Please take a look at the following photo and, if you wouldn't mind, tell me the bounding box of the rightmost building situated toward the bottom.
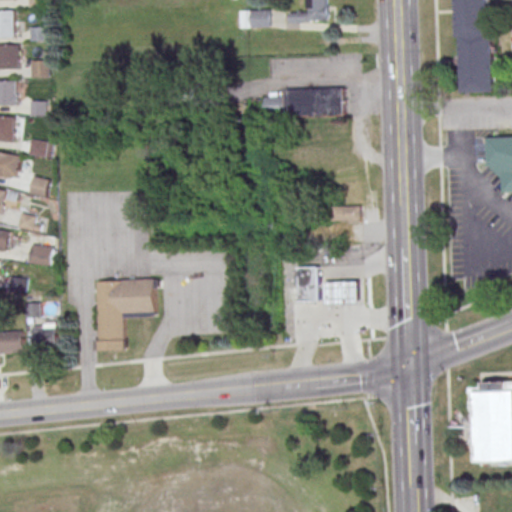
[472,382,512,464]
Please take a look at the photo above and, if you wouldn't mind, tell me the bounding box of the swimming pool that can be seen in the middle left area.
[44,302,58,316]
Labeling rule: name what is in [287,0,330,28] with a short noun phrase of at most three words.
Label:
house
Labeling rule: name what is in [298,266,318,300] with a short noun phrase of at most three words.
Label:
building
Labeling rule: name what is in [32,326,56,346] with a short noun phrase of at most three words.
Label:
house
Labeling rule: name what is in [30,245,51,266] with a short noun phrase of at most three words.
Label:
building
